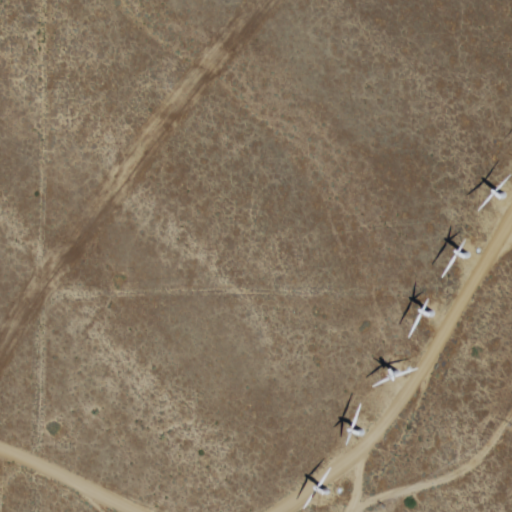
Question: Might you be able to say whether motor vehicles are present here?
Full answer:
No, the frame has no motor vehicle in it.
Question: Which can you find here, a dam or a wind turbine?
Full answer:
The image shows a wind turbine.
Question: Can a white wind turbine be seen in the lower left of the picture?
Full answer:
No, I can find no white wind turbine in the lower left of the picture.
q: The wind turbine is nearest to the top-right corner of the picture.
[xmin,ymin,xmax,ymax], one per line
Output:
[476,172,510,208]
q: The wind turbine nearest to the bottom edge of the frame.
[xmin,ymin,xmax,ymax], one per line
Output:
[302,468,332,509]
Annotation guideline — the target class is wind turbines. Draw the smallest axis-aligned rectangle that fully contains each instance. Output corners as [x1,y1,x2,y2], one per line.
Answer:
[442,238,473,276]
[302,468,332,509]
[476,172,510,208]
[344,404,366,446]
[408,296,437,336]
[374,367,418,388]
